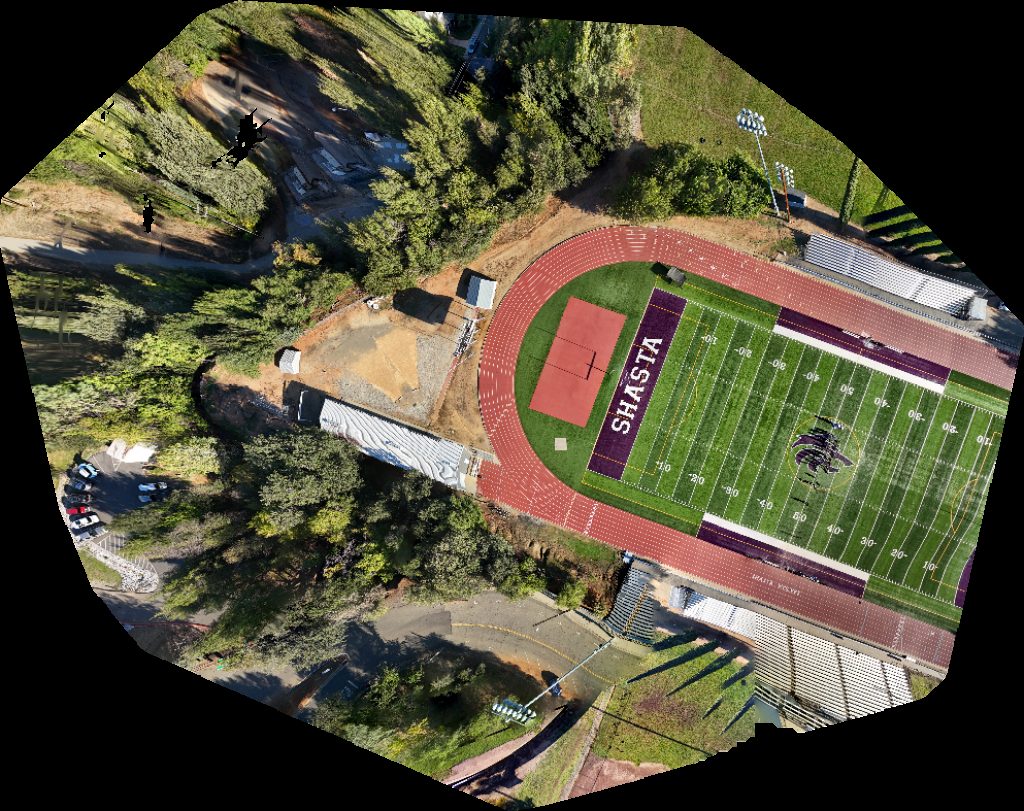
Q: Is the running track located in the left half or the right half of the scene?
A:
right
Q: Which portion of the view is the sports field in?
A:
right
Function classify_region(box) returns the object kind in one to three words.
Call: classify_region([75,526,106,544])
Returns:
vehicle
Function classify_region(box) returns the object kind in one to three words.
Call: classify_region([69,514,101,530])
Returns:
vehicle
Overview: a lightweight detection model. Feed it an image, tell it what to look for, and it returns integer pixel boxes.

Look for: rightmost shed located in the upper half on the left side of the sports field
[464,275,503,310]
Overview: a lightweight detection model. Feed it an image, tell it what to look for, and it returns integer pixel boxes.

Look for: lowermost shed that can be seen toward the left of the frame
[279,350,309,373]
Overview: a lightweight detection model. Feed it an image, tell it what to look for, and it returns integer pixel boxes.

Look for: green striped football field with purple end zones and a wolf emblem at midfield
[516,262,1010,631]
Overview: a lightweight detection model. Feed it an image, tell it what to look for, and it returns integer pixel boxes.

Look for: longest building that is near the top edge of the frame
[420,9,455,33]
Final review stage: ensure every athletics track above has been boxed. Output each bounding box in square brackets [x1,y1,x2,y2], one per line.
[475,220,1018,669]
